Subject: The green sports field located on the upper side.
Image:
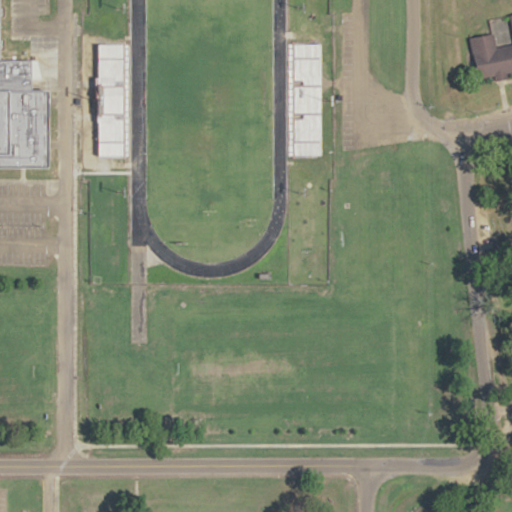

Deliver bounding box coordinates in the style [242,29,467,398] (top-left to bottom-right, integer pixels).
[147,0,274,262]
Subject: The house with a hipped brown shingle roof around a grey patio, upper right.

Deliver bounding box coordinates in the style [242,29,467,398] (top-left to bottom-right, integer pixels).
[469,15,512,79]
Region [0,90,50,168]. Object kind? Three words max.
building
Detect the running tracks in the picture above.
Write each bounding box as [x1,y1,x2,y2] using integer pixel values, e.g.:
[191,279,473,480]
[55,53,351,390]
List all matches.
[132,0,286,278]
